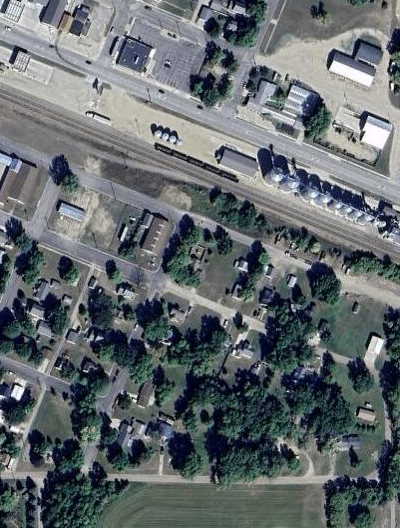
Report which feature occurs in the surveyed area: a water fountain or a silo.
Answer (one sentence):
I can see a silo in this picture.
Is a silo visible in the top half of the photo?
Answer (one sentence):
Yes, a silo is visible in the top half of the photo.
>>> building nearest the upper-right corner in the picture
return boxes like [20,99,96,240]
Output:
[354,40,383,66]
